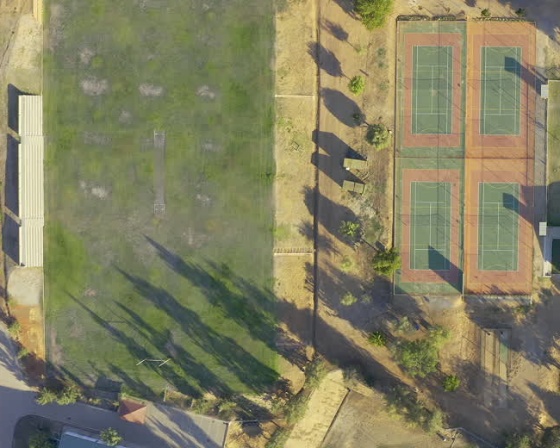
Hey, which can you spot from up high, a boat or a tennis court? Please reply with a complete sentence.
The one in the frame is a tennis court.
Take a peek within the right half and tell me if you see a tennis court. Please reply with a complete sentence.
Yes, a tennis court can be seen within the right half.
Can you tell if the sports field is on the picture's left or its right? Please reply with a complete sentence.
It is on the left.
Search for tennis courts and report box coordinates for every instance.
[395,158,465,295]
[465,158,534,295]
[397,22,466,158]
[466,22,536,158]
